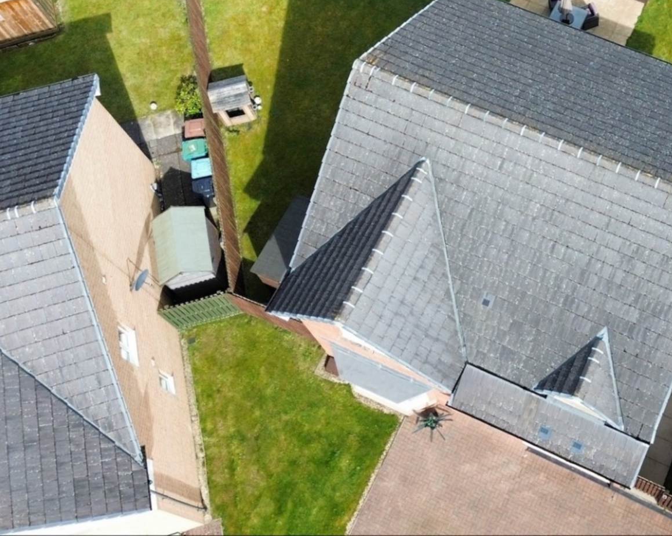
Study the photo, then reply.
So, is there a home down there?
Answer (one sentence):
Yes, looking at the shot, I can spot a home.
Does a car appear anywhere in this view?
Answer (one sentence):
No, there appears to be no car in this shot.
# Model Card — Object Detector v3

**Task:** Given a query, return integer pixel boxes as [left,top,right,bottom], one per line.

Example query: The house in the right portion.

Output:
[265,0,672,491]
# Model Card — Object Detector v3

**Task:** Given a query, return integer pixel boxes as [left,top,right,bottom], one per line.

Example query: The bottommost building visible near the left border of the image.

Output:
[0,74,208,536]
